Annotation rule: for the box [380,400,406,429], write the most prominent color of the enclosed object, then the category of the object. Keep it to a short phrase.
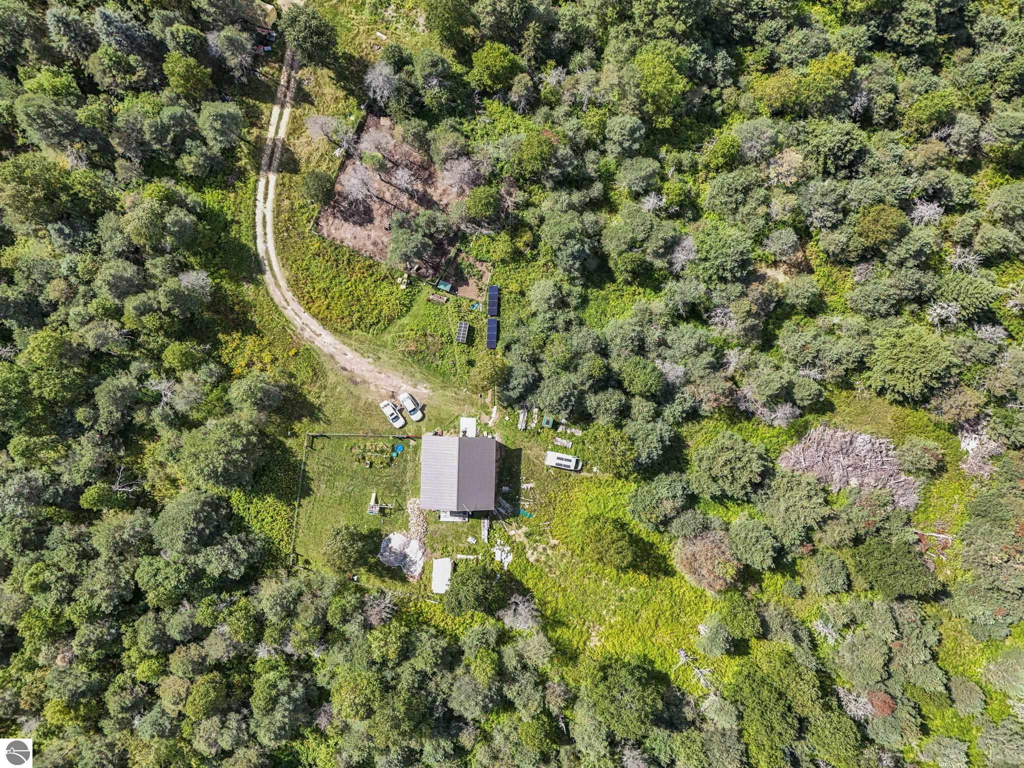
white car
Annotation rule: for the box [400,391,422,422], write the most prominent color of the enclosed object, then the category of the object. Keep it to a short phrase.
white car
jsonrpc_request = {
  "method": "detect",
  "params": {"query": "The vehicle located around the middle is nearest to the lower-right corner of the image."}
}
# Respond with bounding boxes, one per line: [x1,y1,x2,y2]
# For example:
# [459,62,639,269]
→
[544,451,582,472]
